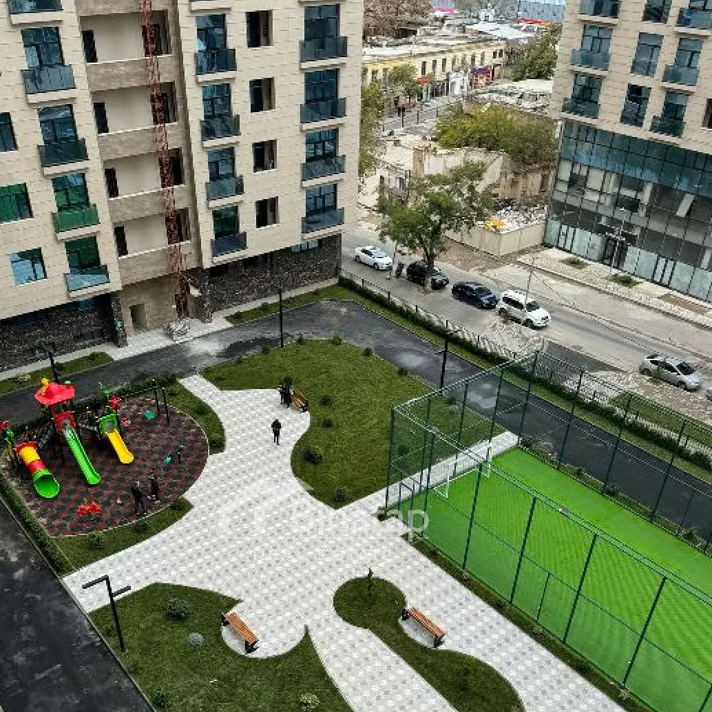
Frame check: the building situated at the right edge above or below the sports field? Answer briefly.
above it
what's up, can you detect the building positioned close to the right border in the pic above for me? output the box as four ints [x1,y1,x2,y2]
[547,0,712,301]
